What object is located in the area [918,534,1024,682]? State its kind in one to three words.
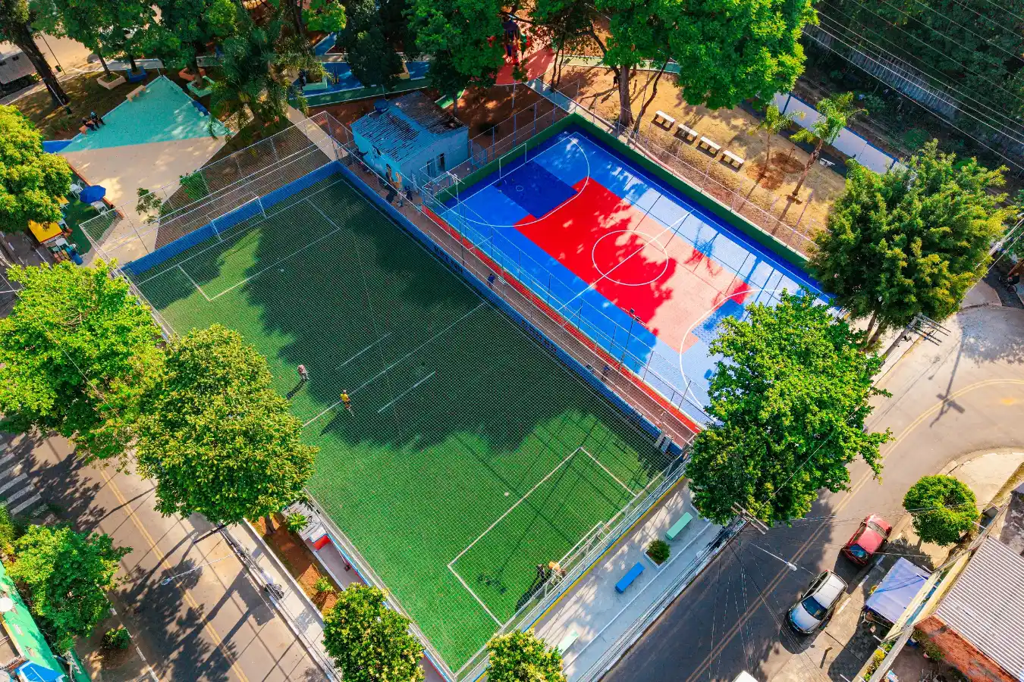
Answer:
house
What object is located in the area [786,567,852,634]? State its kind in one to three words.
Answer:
car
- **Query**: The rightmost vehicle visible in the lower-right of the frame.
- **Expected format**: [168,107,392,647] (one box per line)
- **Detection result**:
[840,512,894,571]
